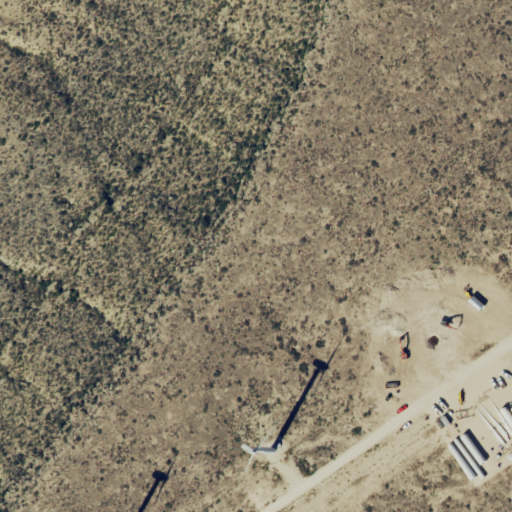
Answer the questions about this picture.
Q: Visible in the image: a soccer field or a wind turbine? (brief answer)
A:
wind turbine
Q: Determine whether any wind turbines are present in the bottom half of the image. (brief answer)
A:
Yes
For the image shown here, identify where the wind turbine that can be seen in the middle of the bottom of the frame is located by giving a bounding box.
[239,418,280,492]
